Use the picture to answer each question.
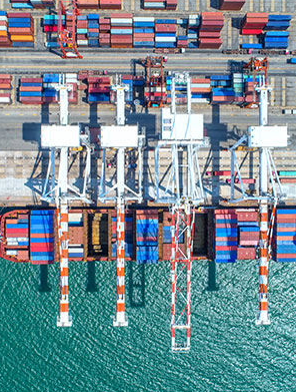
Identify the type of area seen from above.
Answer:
port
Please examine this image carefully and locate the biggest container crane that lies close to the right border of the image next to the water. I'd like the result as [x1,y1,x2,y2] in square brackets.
[223,73,292,325]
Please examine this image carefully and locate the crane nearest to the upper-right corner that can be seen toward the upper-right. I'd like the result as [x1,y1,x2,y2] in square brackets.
[240,54,268,108]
